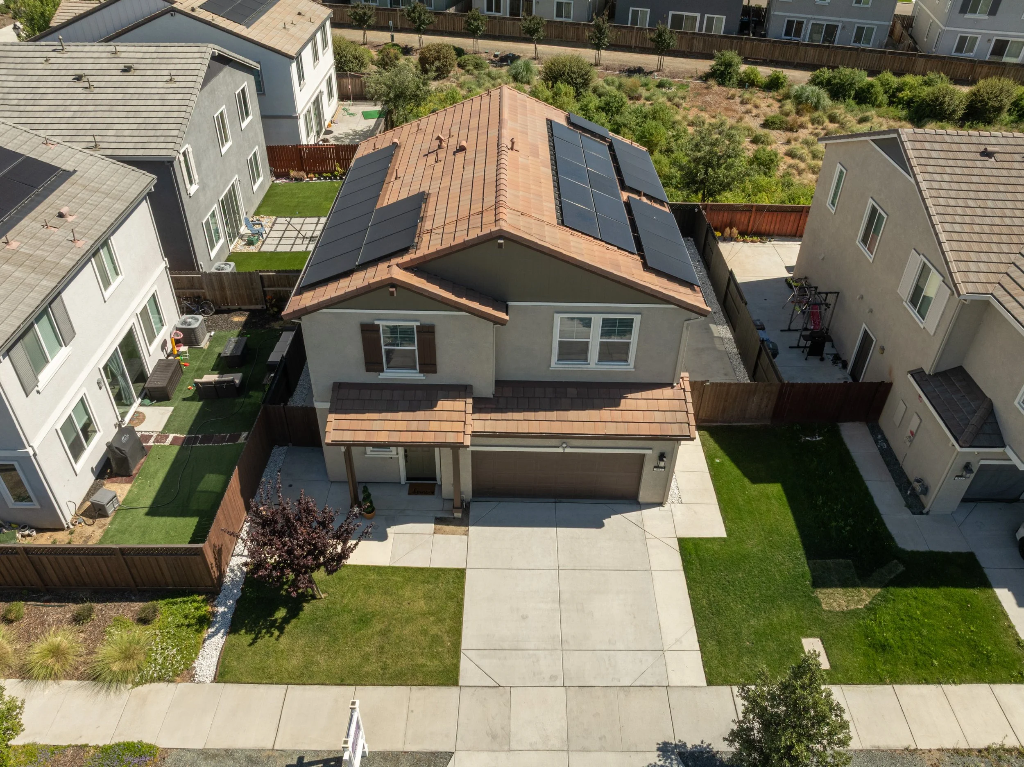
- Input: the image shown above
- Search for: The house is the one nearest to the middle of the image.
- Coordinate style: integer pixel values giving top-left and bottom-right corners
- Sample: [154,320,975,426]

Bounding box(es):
[280,83,709,515]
